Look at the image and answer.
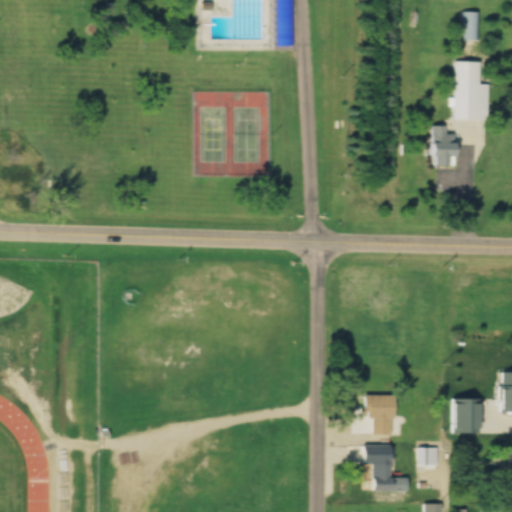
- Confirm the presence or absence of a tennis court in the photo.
Yes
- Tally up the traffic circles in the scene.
zero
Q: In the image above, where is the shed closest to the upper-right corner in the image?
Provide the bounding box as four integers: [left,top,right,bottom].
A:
[460,12,480,40]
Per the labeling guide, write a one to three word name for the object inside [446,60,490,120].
building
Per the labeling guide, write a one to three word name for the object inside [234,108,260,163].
tennis court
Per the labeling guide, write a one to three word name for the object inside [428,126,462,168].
house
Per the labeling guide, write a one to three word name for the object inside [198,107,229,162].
tennis court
